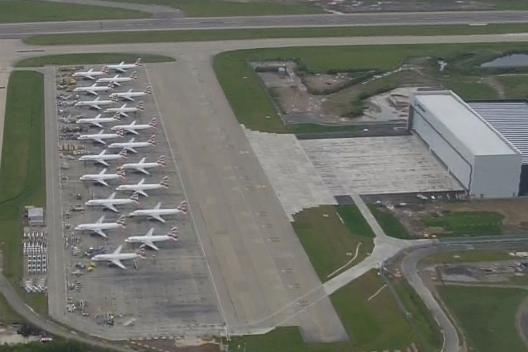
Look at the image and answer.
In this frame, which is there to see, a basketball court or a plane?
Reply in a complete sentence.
Looking from above, you can make out a plane.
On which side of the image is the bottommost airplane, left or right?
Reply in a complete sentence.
The bottommost airplane is on the left side of the image.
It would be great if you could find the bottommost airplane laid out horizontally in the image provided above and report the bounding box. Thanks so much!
[91,245,146,268]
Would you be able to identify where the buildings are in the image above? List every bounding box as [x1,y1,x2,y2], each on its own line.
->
[407,90,528,198]
[28,210,43,229]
